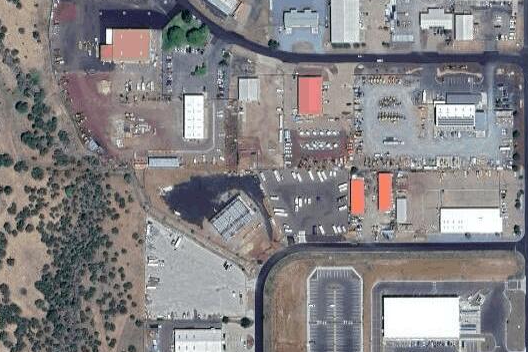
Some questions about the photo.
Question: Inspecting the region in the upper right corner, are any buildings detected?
Yes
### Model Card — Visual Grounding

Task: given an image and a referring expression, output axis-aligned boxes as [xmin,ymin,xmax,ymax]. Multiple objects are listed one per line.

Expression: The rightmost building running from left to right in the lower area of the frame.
[441,208,501,233]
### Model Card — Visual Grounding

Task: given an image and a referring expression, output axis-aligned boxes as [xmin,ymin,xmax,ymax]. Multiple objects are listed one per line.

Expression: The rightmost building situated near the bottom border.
[384,296,461,337]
